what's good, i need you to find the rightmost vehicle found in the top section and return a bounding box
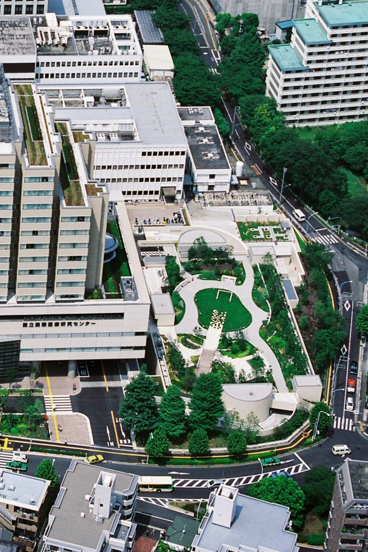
[290,208,308,221]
